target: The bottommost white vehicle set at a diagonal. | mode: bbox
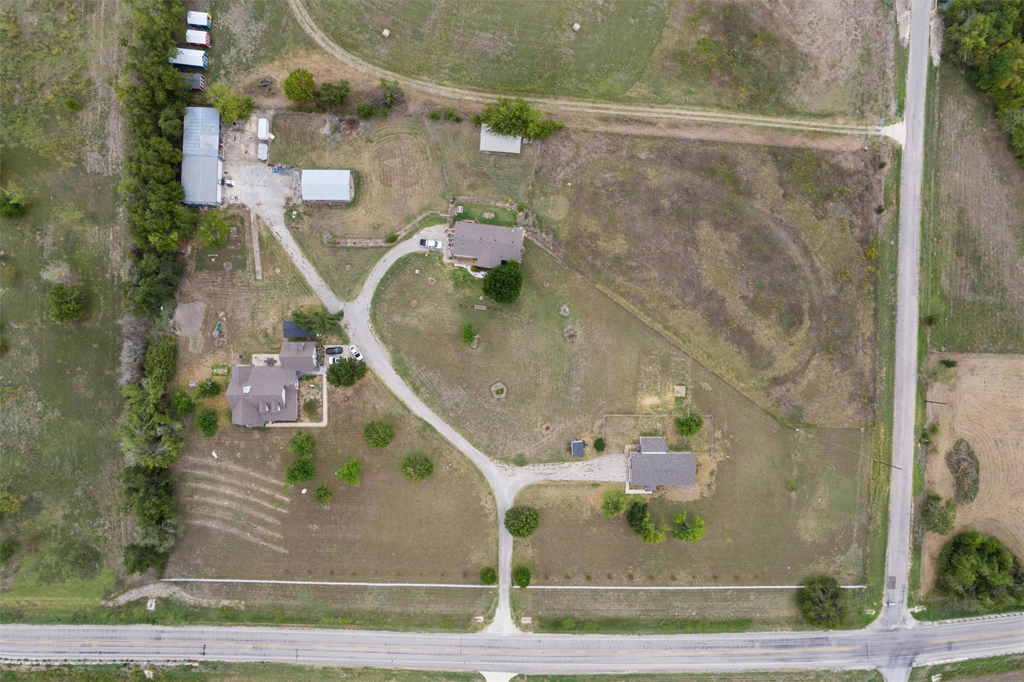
[348,344,364,360]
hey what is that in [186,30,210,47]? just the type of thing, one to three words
shed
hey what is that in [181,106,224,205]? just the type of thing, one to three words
building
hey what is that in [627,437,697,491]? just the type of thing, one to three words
house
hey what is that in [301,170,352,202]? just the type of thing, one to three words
barn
